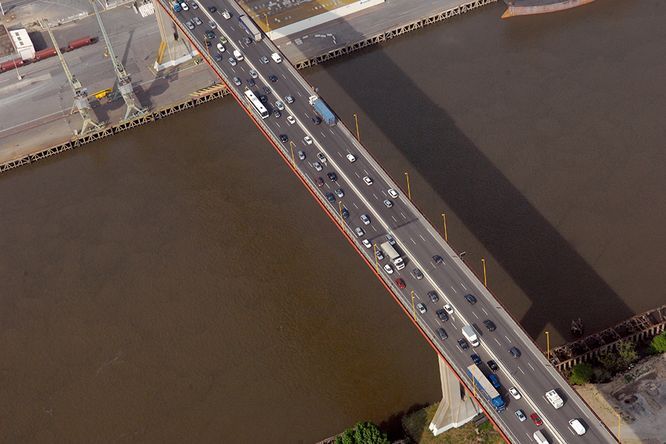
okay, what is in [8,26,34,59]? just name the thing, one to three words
building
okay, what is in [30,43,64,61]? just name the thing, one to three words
rail car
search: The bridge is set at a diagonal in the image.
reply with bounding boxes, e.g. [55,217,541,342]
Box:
[155,0,624,444]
